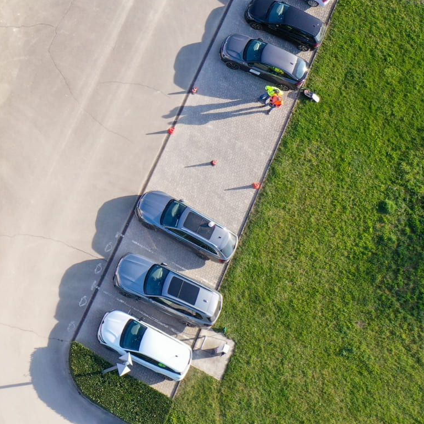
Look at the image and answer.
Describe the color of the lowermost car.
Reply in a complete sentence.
In this view, the lowermost car is white.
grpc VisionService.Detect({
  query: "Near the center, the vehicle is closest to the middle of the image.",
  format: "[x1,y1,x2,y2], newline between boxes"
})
[133,193,243,268]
